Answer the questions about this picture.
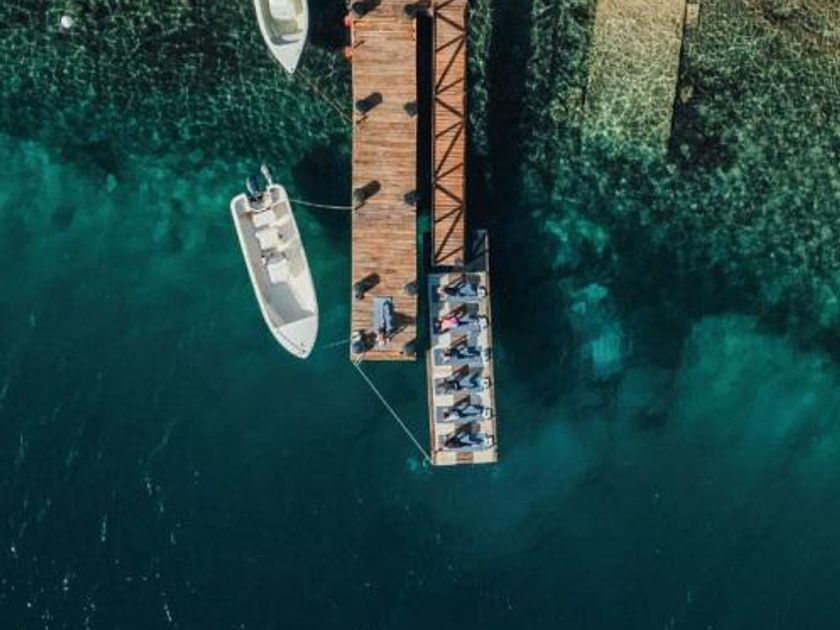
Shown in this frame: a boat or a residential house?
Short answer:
boat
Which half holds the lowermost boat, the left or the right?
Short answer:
left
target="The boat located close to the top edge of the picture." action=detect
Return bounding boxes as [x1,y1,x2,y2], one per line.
[253,0,308,75]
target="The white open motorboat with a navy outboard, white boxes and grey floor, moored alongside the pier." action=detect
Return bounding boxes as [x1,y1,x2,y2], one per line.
[233,173,314,358]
